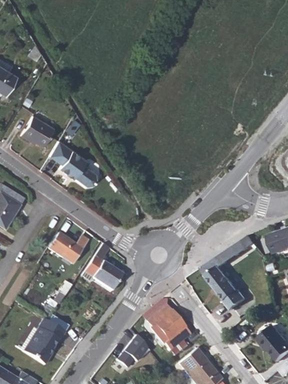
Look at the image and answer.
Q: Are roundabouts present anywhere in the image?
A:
Yes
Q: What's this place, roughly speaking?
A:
residential area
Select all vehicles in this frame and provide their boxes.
[144,281,152,292]
[222,364,232,374]
[52,165,60,174]
[68,329,78,341]
[62,220,71,232]
[193,197,202,208]
[242,359,252,370]
[49,216,58,229]
[16,251,24,262]
[222,312,232,322]
[216,307,227,316]
[238,331,248,341]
